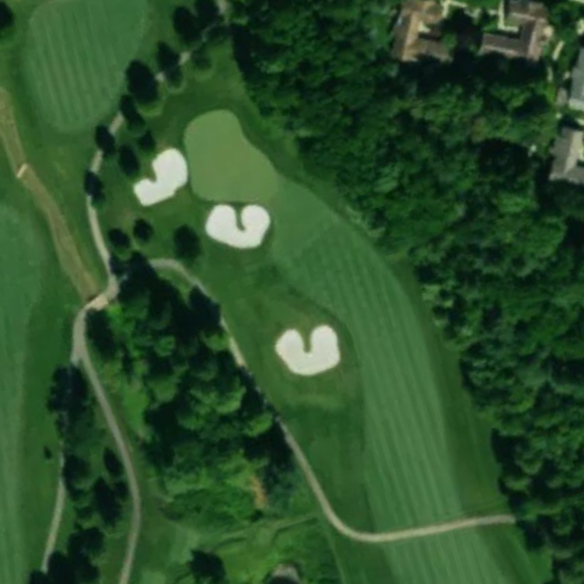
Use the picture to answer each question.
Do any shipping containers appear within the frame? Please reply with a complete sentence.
No, there appears to be no shipping container in this shot.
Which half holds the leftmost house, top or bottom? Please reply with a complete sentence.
You can find the leftmost house in the top half.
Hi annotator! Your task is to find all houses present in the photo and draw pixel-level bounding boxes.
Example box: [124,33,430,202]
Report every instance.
[570,47,584,109]
[553,127,584,185]
[394,1,452,65]
[482,1,550,60]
